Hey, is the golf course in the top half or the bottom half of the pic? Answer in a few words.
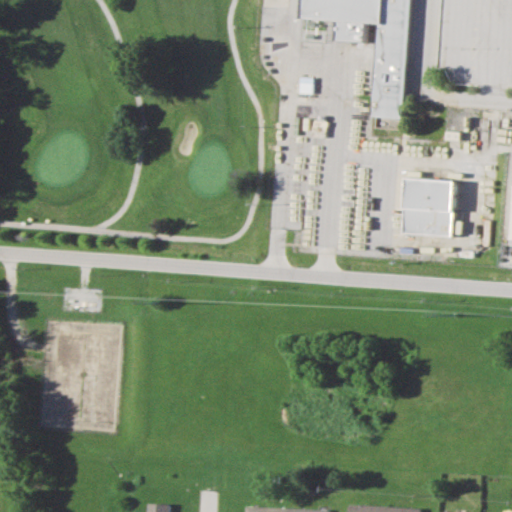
top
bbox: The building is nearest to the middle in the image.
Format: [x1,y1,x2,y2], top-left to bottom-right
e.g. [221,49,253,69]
[311,118,330,138]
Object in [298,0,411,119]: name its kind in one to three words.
building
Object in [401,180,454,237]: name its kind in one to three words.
building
